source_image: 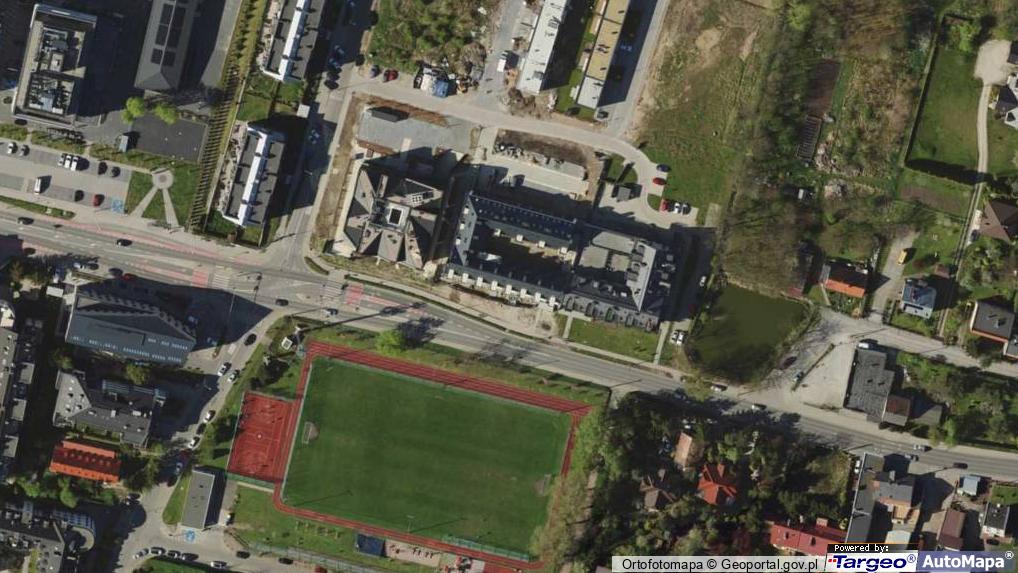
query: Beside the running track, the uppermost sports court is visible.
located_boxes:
[228,392,295,479]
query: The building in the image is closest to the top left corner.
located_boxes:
[12,4,101,130]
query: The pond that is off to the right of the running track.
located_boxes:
[688,283,811,380]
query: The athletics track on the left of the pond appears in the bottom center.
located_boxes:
[273,342,594,570]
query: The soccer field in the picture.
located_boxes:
[281,357,571,561]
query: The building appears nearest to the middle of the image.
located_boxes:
[445,193,577,310]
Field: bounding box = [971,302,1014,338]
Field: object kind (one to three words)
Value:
house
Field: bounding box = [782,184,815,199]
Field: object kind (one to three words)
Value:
shed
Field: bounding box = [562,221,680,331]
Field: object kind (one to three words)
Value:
building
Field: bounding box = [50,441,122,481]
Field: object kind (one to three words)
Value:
house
